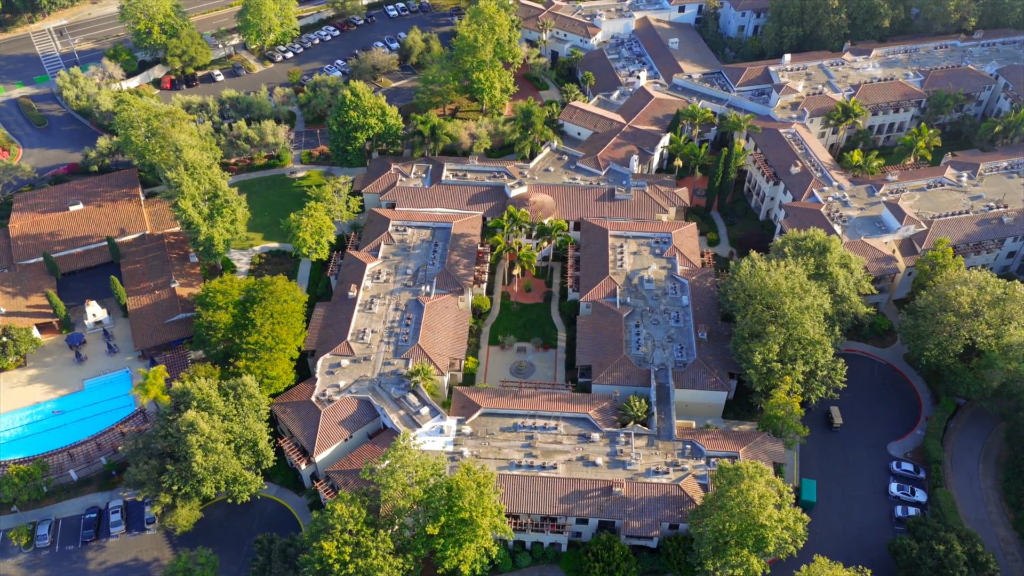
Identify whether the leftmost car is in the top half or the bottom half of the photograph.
bottom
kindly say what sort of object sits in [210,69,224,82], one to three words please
vehicle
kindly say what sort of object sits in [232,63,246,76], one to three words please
vehicle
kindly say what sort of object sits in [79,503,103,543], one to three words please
car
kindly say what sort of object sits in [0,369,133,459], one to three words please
swimming pool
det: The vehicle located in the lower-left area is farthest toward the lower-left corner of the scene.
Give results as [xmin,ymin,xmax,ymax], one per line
[32,511,57,552]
